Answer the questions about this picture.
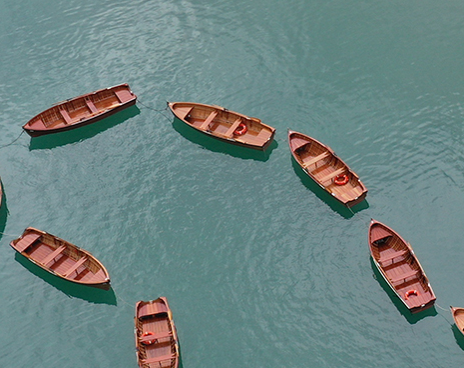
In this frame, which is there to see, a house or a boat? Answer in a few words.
boat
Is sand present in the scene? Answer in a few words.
No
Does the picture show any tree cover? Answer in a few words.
No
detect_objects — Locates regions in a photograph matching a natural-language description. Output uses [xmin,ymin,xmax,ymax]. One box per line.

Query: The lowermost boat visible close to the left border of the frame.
[9,225,110,287]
